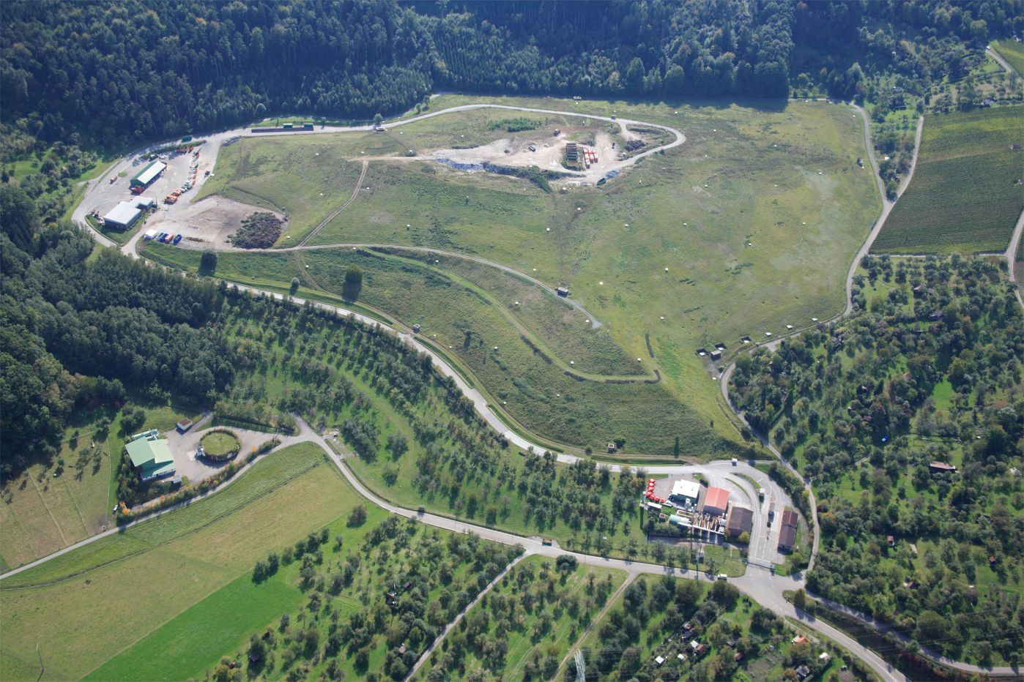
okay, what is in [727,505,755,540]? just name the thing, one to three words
building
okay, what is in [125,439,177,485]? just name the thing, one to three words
building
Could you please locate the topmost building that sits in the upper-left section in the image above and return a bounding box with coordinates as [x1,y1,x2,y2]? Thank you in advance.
[125,161,167,190]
